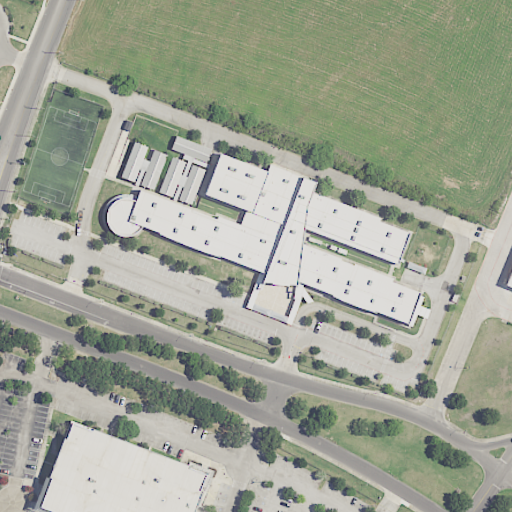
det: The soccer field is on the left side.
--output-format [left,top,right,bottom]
[20,90,102,212]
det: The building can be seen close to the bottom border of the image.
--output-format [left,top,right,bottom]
[34,420,214,512]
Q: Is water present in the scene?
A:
No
